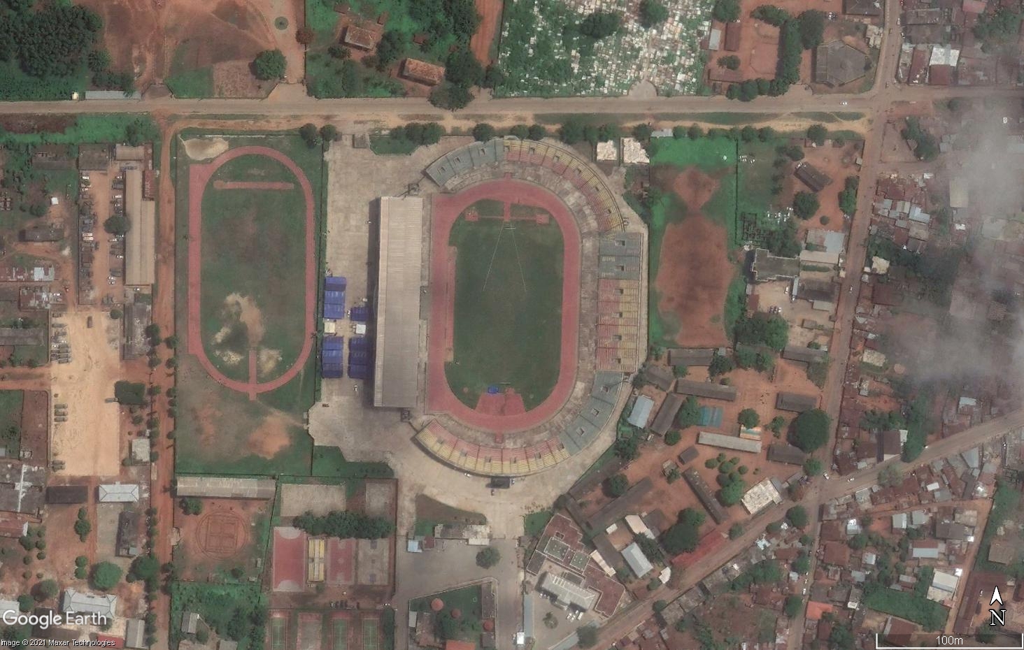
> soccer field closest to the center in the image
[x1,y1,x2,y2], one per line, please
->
[444,199,564,411]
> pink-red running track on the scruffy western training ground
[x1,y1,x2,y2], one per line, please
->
[188,146,316,401]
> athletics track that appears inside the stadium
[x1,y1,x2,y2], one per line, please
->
[426,174,581,443]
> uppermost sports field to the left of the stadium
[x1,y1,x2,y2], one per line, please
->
[201,154,306,383]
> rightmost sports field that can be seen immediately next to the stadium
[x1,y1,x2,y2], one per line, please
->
[650,135,734,347]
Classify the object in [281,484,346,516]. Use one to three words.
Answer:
sports court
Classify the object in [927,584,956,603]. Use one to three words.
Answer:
house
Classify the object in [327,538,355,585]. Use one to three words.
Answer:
basketball court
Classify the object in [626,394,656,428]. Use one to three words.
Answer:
building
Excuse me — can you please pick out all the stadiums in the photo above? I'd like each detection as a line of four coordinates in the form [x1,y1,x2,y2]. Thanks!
[308,134,649,540]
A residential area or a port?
residential area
